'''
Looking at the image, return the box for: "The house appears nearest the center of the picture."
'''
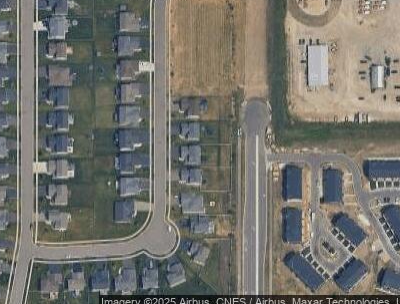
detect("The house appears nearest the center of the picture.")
[180,145,204,165]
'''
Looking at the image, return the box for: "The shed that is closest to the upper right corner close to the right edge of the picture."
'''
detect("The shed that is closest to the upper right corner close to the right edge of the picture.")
[371,65,384,91]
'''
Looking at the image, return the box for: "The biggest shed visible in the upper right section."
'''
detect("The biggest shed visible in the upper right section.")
[307,45,329,88]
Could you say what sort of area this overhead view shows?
residential area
